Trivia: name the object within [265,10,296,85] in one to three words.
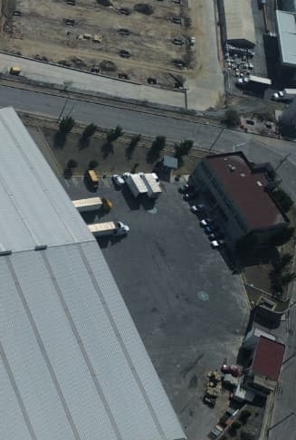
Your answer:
building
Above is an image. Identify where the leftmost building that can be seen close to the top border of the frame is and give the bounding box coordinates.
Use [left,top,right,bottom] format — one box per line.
[215,0,255,58]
